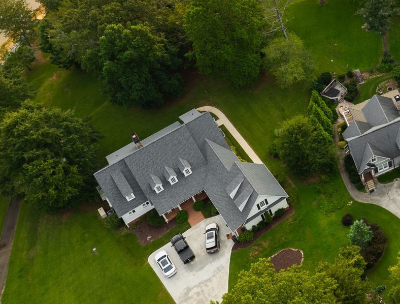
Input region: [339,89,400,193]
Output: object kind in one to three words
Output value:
house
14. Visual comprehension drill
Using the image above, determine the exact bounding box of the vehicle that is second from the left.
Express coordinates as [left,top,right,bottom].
[171,232,197,268]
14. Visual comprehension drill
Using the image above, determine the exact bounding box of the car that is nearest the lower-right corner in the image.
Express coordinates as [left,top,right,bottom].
[203,223,220,256]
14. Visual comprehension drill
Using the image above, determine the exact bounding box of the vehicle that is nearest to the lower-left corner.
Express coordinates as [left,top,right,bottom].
[155,249,178,281]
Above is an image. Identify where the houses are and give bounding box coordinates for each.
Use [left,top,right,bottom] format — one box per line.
[339,89,400,193]
[94,106,288,240]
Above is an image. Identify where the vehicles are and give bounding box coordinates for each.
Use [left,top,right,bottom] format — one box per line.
[155,249,178,281]
[203,223,220,256]
[171,232,197,268]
